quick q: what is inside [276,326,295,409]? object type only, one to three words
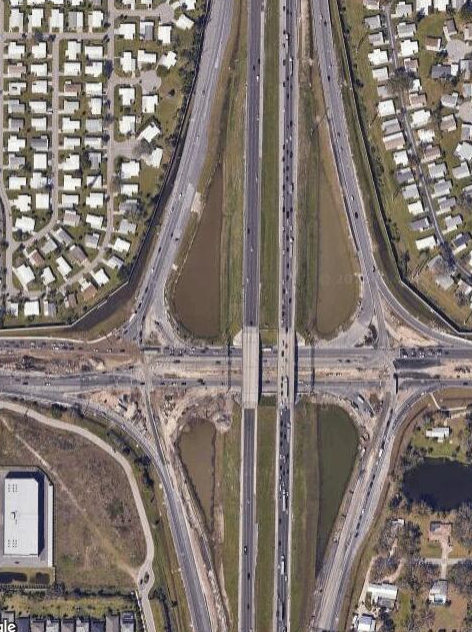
bridge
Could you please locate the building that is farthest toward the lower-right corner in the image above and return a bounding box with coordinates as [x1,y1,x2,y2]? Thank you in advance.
[429,580,448,604]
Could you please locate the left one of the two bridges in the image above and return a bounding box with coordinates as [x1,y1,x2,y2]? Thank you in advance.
[241,326,259,409]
